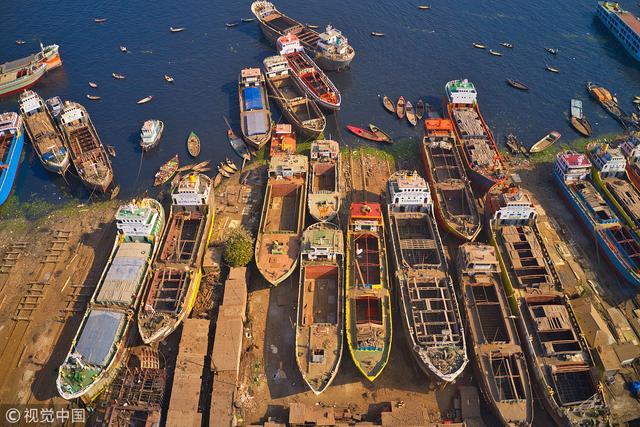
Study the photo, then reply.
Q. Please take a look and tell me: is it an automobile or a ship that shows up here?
ship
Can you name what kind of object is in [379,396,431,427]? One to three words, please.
shed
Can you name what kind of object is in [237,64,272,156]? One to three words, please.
ship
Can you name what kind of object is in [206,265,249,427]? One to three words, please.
shed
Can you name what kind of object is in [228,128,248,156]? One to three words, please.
boat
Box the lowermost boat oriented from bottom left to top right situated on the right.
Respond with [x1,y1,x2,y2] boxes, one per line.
[530,129,564,152]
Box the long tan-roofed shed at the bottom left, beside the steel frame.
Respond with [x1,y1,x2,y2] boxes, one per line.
[162,318,212,427]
